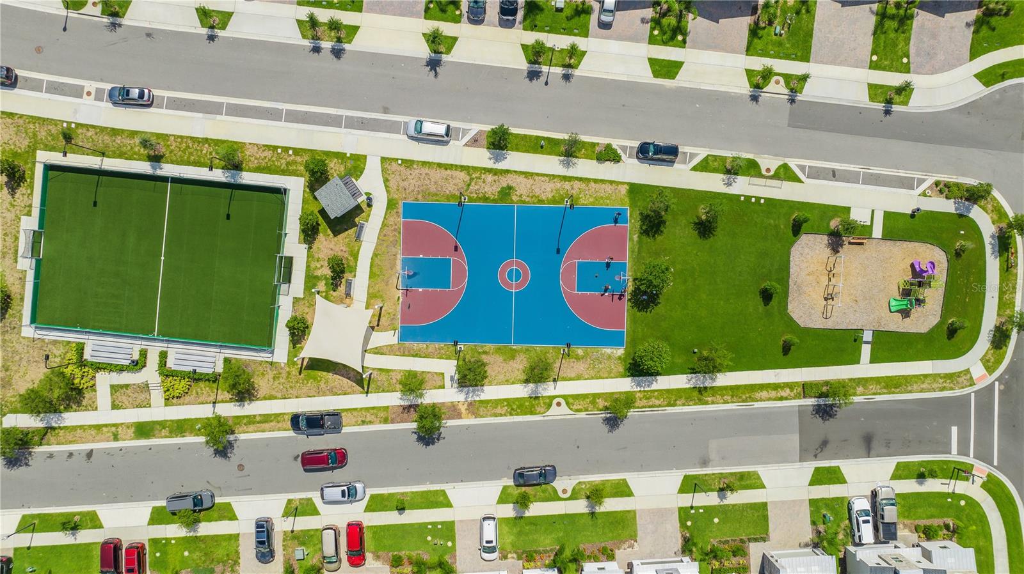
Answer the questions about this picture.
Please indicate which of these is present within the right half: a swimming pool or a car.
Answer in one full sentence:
The feature located within the right half is a car.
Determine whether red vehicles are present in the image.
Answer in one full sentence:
Yes, there is a red vehicle in the image.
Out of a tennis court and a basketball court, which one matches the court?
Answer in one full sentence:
Looking closely, the court is a basketball court.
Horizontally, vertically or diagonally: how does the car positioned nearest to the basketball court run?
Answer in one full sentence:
In this picture, the car positioned nearest to the basketball court lies horizontally.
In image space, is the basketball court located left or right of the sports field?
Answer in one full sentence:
The sports field has the basketball court on its right side.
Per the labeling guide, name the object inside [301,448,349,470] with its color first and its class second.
red car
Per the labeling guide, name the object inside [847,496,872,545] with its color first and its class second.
white car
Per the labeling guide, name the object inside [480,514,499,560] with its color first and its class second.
white car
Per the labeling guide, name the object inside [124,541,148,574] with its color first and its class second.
red car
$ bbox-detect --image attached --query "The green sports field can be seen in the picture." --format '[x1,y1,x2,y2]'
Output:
[31,165,292,347]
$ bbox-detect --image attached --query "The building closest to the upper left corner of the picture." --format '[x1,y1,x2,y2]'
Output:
[314,175,366,219]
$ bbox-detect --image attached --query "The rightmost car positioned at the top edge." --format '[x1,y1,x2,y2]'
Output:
[597,0,617,27]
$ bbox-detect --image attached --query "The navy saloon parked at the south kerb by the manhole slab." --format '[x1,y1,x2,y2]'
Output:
[513,464,556,485]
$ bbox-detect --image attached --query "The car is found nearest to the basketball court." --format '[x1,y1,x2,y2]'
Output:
[635,141,680,163]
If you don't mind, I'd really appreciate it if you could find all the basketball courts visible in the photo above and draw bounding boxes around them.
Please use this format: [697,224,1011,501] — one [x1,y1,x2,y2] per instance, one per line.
[399,201,629,349]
